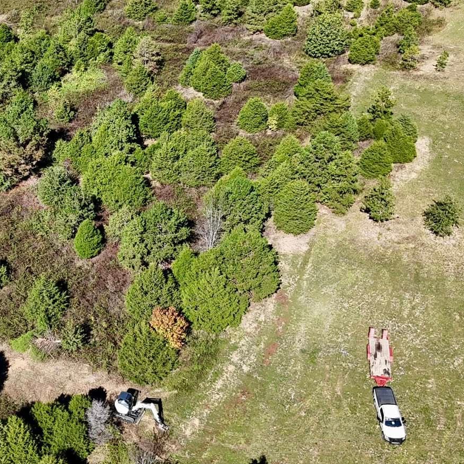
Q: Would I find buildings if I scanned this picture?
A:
No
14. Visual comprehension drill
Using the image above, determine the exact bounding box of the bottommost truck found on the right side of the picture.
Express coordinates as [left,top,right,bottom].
[370,386,407,447]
